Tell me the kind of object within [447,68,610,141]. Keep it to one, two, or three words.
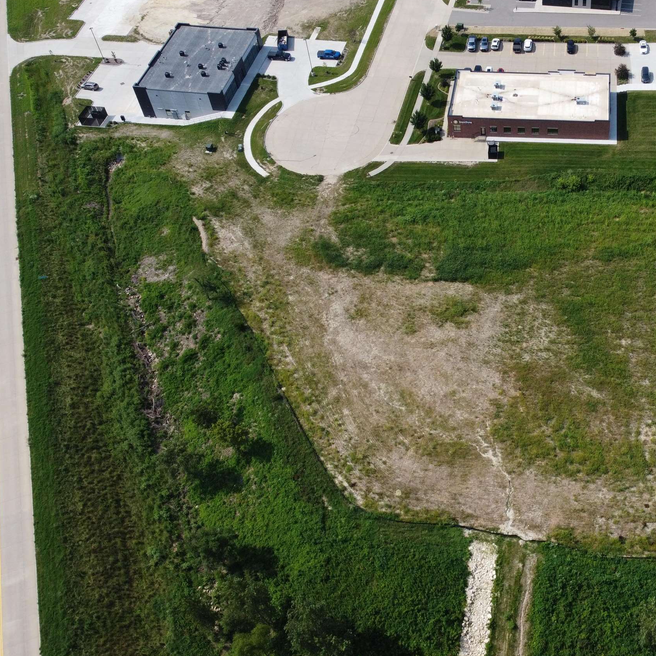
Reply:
building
